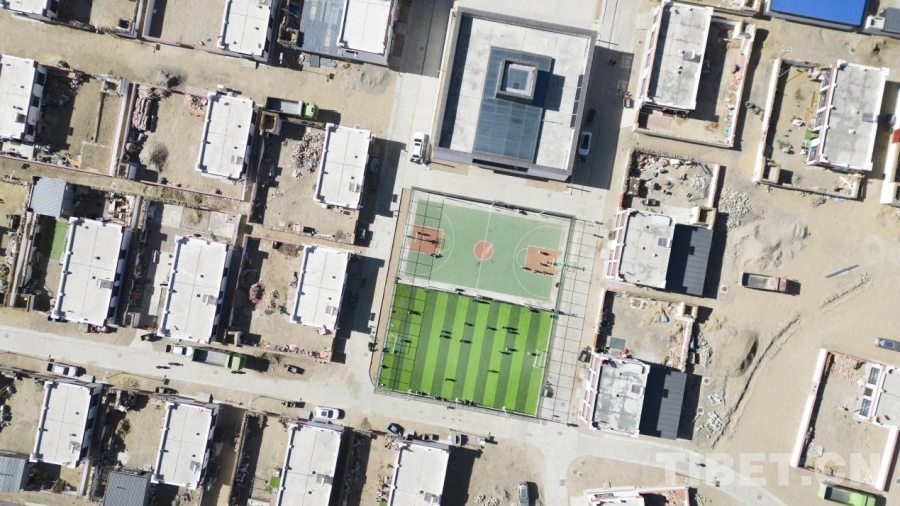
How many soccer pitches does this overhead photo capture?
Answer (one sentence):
There is 1 soccer pitch in the image.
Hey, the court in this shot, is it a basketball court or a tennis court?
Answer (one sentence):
I'd say the court is a basketball court.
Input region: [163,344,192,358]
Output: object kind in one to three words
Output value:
vehicle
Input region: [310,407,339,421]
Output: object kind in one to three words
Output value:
car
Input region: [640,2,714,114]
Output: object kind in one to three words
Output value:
house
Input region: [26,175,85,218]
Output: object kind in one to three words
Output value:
shed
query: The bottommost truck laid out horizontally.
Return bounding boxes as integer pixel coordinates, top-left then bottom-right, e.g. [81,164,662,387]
[823,484,883,506]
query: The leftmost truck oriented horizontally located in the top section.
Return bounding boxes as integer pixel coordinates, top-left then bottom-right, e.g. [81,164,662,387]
[263,96,317,119]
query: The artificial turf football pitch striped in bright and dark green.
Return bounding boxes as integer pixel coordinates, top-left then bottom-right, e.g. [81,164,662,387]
[378,286,554,416]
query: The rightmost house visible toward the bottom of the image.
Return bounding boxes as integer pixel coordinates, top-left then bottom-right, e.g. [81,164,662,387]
[857,362,900,430]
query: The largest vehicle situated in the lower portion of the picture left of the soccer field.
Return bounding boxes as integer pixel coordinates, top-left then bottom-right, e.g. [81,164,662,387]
[186,349,244,372]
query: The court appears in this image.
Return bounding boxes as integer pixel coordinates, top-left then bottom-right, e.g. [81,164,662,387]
[405,200,562,300]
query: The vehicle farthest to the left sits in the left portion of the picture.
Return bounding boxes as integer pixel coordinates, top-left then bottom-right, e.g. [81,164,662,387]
[47,364,77,378]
